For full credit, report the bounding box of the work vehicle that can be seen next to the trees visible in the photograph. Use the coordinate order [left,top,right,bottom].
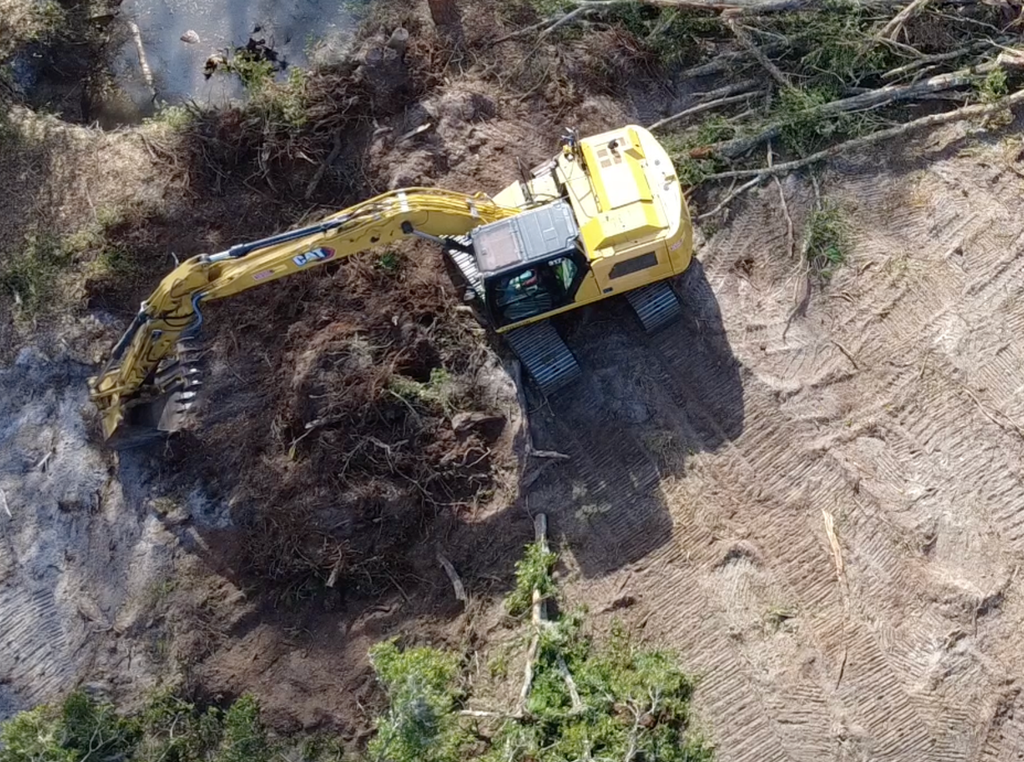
[83,129,693,446]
